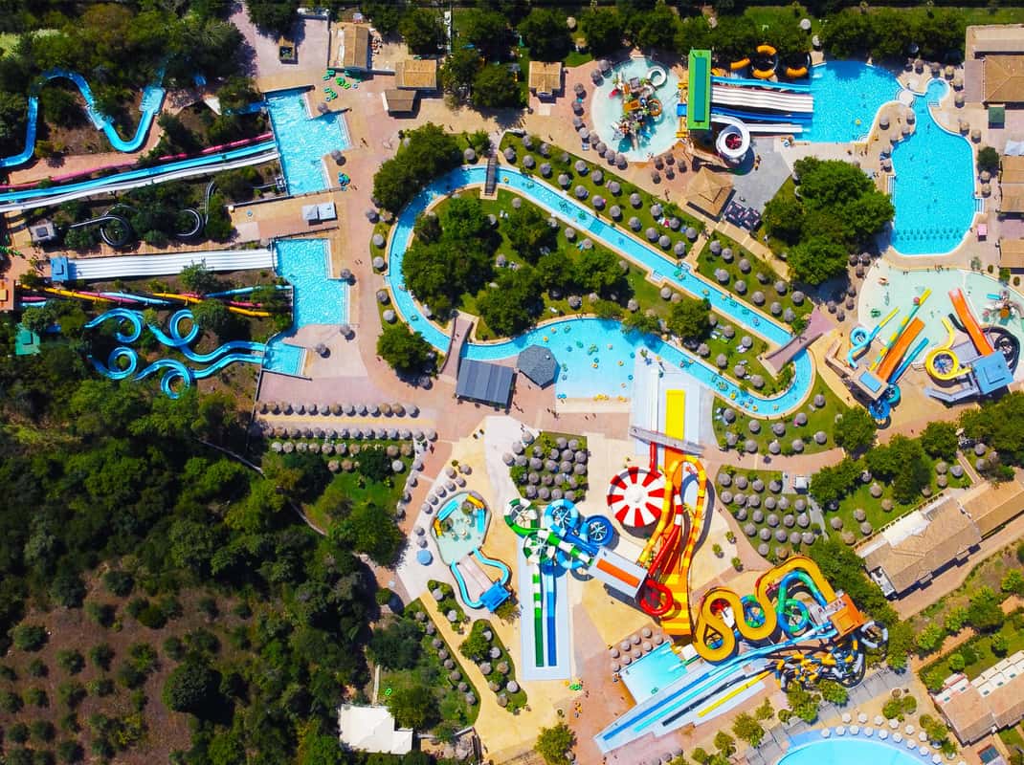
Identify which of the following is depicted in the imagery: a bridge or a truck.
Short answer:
bridge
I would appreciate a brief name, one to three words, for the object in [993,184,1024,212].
building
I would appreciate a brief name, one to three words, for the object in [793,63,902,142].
swimming pool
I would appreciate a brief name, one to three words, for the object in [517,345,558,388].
gazebo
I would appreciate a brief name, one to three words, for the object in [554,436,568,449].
umbrella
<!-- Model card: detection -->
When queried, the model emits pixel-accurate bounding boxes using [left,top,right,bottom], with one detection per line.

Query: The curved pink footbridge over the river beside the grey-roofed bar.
[439,317,473,378]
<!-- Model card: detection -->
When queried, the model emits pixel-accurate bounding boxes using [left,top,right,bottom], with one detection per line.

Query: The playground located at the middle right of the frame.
[988,292,1024,325]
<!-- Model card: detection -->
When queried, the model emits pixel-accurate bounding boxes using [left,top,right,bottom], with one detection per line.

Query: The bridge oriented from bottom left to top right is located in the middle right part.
[766,307,828,374]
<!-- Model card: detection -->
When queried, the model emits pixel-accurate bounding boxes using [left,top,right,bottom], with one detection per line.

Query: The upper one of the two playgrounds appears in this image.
[603,70,665,147]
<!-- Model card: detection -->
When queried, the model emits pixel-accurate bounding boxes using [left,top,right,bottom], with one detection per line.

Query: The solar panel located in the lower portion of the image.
[977,744,1001,765]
